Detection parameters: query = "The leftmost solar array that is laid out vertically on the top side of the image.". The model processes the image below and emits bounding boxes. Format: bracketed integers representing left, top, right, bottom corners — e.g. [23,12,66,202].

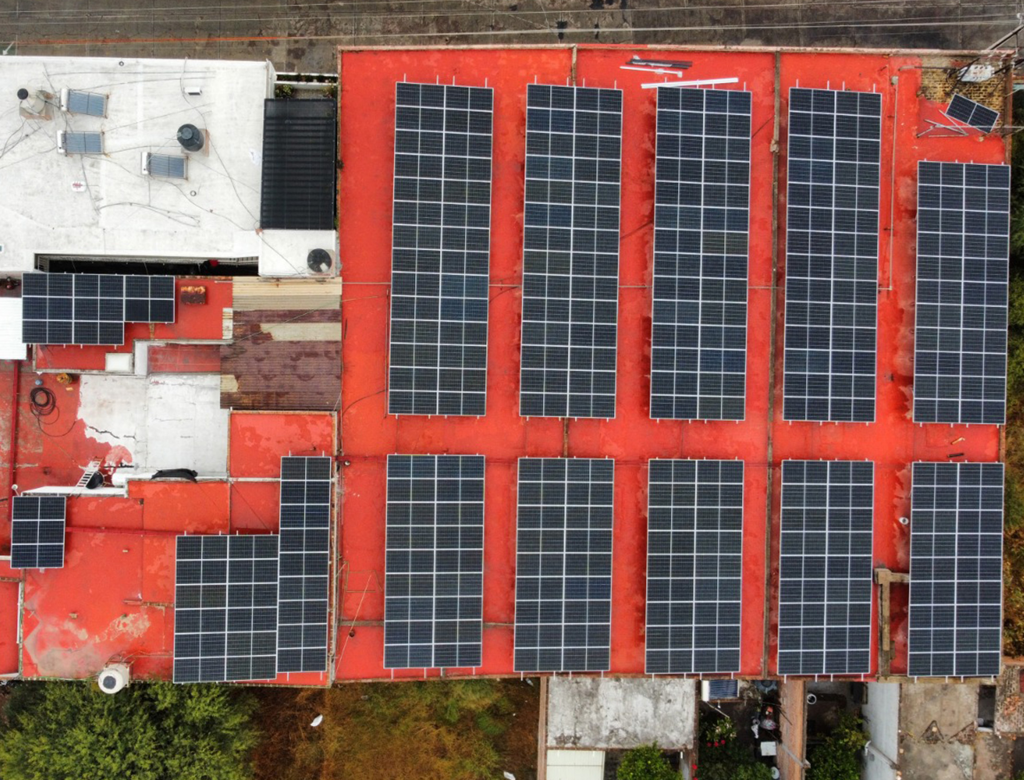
[388,73,493,420]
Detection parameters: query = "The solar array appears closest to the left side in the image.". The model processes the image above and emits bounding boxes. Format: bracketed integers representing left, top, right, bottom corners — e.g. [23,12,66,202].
[11,496,70,569]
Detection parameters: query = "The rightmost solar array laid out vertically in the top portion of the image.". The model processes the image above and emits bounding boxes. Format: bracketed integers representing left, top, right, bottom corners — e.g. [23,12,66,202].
[909,158,1011,428]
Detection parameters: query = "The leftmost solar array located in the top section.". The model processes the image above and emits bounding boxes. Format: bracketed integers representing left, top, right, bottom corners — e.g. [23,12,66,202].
[22,271,175,351]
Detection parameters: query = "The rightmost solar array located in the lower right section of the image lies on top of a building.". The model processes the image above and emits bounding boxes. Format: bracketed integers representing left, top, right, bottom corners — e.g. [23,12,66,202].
[905,460,1005,683]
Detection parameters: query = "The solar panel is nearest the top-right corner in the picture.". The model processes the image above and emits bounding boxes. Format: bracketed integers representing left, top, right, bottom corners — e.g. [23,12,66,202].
[945,93,998,135]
